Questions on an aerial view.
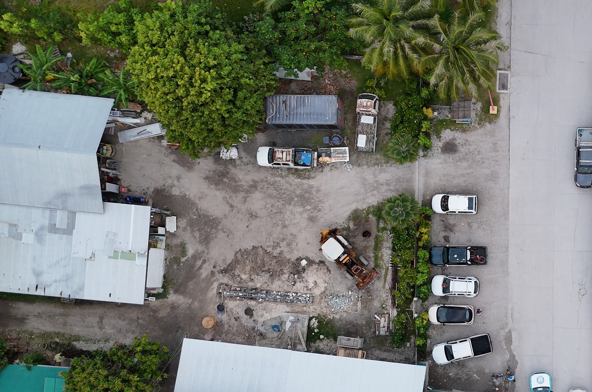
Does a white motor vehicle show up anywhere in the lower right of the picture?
Yes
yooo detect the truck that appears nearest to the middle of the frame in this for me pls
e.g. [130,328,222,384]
[260,144,325,169]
